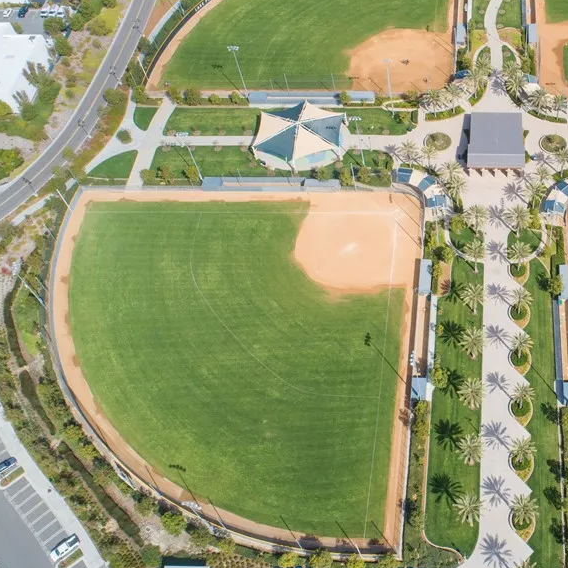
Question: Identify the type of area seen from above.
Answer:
sports ground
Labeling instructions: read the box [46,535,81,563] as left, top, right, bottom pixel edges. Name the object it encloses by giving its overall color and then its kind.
white truck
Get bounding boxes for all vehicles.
[54,4,65,16]
[45,4,56,16]
[46,535,81,563]
[18,5,28,15]
[2,6,12,16]
[0,457,17,475]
